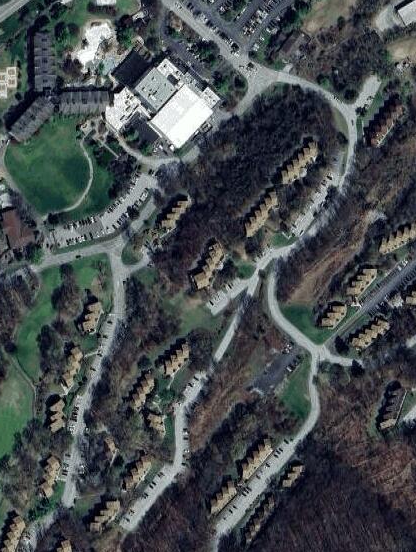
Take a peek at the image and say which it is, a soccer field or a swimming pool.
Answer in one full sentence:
The image shows a swimming pool.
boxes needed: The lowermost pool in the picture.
[67,18,129,86]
